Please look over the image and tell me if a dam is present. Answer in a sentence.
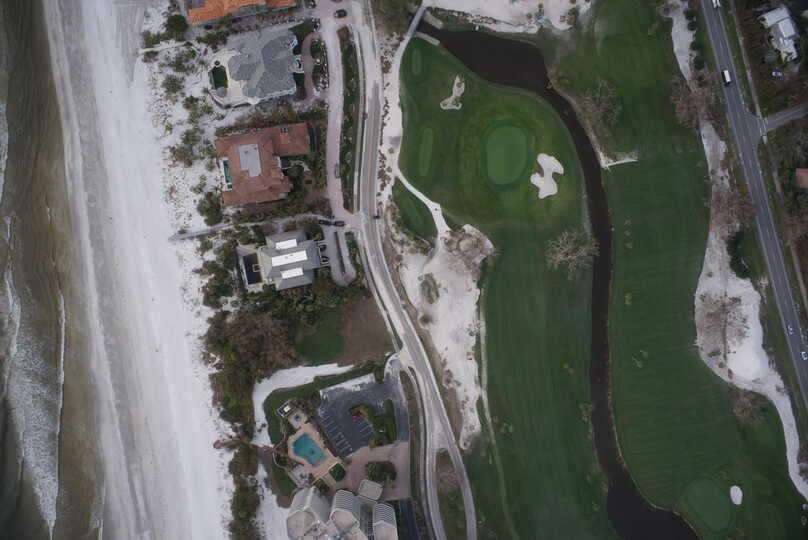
No, the photo shows no dam.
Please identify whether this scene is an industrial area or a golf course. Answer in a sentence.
The area seen from above is a golf course.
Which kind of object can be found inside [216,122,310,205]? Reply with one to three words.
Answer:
house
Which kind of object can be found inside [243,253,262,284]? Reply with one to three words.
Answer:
swimming pool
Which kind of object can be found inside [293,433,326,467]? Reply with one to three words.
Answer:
swimming pool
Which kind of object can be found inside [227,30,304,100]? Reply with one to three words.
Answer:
house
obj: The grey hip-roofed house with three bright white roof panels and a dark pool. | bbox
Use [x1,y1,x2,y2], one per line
[263,231,330,291]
